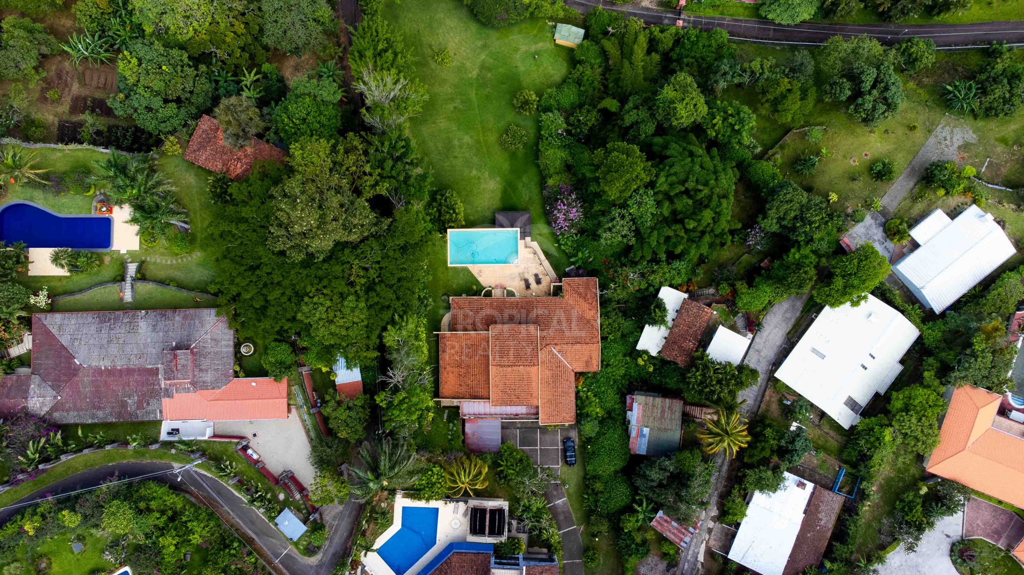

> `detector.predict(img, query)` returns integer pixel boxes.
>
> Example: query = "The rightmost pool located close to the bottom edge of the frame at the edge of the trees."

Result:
[371,502,444,575]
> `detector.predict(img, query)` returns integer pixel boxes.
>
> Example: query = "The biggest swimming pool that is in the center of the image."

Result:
[447,228,520,267]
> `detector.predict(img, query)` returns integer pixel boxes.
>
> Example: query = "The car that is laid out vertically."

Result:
[563,439,578,469]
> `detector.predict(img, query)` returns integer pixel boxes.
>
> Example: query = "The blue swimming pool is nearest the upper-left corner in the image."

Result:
[0,199,113,252]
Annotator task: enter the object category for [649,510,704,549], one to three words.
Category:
shed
